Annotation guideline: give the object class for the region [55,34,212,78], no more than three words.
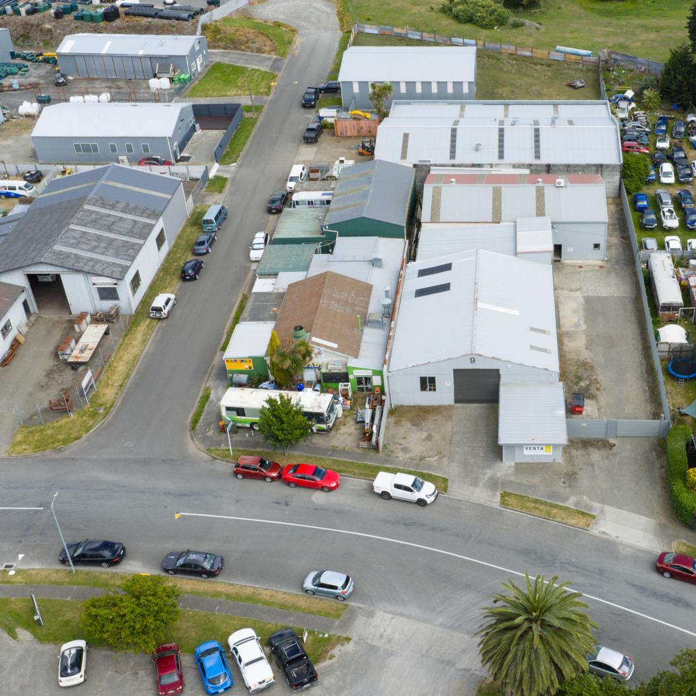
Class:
shed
